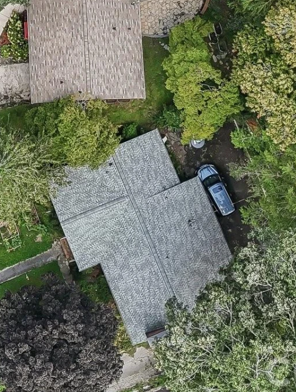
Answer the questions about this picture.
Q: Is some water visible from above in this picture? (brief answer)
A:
No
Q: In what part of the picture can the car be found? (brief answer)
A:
right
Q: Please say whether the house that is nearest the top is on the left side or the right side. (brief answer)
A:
left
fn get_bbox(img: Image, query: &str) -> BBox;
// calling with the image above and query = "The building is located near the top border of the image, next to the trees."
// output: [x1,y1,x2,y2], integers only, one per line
[27,0,146,105]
